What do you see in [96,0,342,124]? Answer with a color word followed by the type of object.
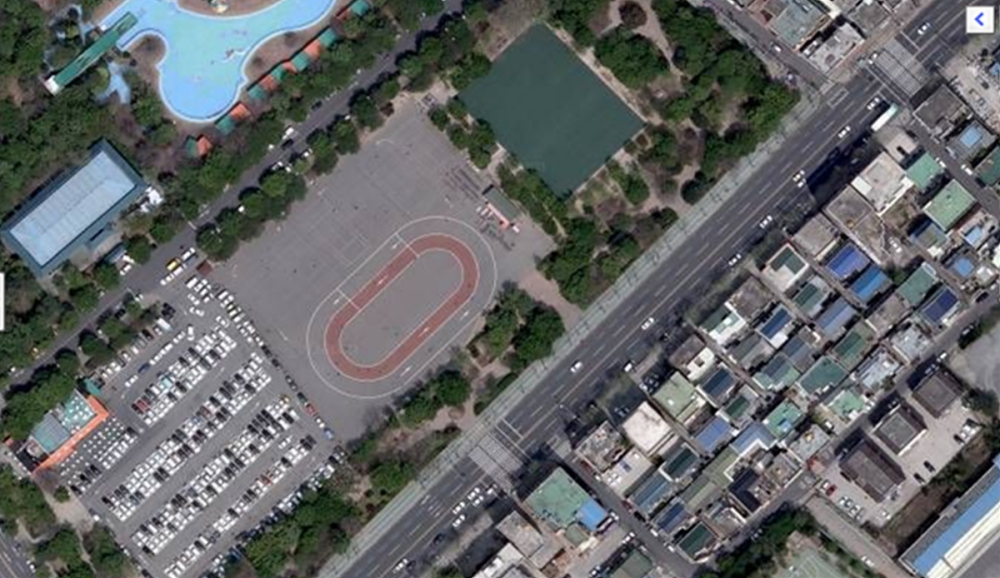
blue swimming pool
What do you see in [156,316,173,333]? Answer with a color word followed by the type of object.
white vehicle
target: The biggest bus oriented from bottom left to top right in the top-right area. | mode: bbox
[870,104,897,131]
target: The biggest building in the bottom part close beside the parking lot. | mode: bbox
[18,379,108,473]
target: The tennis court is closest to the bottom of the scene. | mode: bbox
[780,547,841,578]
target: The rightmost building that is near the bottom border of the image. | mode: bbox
[897,462,1000,578]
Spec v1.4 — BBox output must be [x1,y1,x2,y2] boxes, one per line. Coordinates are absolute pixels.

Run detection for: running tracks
[307,216,497,399]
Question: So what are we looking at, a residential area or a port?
residential area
